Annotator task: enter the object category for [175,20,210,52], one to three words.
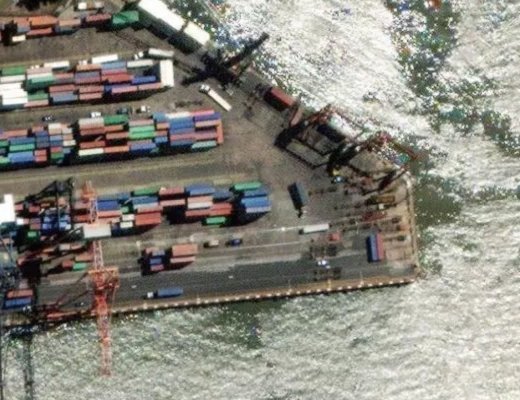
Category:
shed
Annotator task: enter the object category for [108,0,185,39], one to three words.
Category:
shed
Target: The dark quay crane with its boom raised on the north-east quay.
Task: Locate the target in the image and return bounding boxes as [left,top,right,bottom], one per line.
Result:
[200,29,273,95]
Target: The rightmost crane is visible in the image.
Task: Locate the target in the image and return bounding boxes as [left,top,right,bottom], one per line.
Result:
[352,112,427,178]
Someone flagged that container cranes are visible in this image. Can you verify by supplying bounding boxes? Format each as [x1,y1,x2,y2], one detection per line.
[45,181,116,376]
[0,237,12,400]
[200,29,273,95]
[352,112,427,178]
[301,88,380,156]
[35,179,75,253]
